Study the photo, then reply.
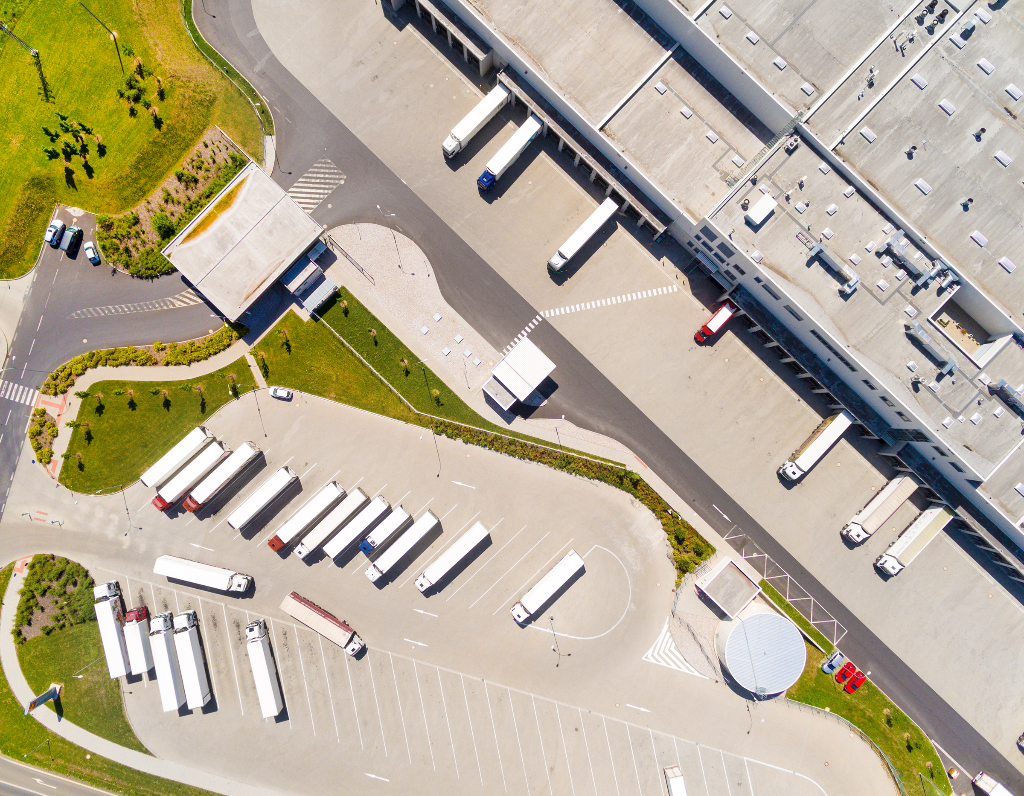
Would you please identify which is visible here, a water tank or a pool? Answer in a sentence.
The one in the frame is a water tank.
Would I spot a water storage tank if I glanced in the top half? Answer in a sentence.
No, no water storage tank is visible in the top half.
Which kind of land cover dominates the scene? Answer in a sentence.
The bulk of the photo consists of paved ground.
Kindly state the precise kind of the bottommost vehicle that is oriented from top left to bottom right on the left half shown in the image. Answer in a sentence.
It turns out the bottommost vehicle that is oriented from top left to bottom right on the left half is a truck.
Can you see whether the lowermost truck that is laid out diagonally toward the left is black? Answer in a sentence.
No, the lowermost truck that is laid out diagonally toward the left is white.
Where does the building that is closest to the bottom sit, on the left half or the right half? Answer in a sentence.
It is on the right.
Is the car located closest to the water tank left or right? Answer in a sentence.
It is on the right.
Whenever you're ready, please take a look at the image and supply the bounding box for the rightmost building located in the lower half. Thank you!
[695,554,762,619]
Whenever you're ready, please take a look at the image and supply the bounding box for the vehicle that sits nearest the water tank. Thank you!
[822,650,843,674]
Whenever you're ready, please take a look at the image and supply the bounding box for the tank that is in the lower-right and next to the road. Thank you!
[715,602,807,699]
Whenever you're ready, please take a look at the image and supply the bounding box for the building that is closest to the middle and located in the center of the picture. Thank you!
[481,336,556,412]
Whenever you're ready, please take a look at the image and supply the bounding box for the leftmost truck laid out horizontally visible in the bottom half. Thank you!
[153,555,253,594]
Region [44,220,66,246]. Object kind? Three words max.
car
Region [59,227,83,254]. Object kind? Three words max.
vehicle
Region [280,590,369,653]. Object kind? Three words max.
truck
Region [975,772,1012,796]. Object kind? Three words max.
truck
